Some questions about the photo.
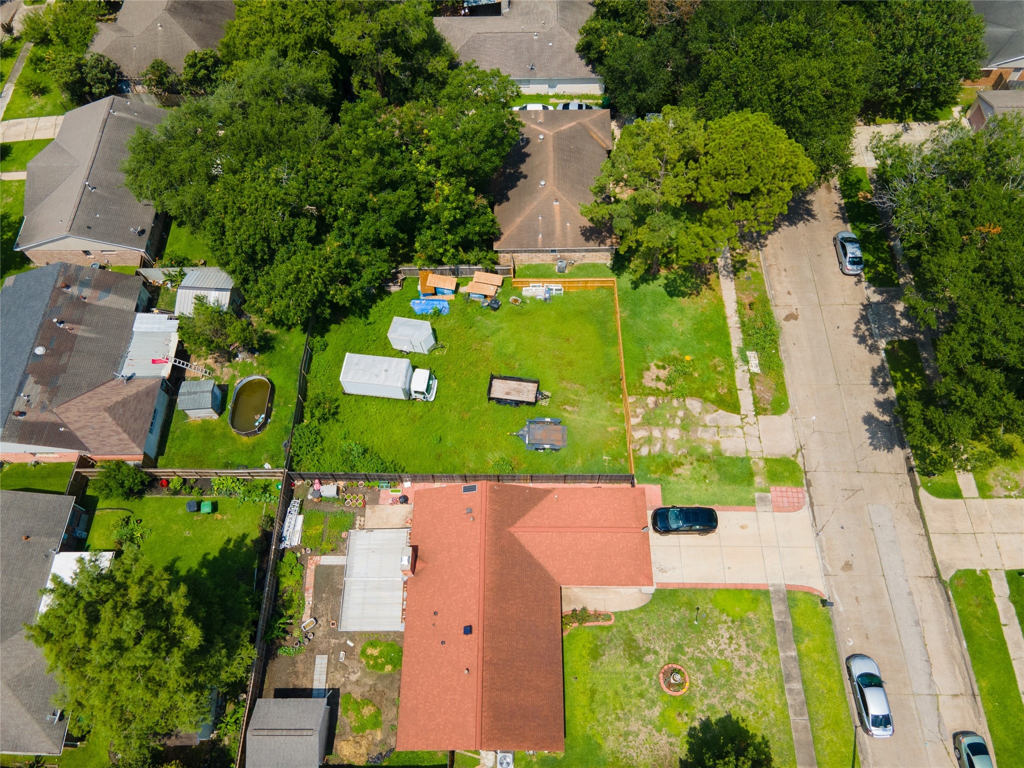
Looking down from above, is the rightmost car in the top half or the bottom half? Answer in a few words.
bottom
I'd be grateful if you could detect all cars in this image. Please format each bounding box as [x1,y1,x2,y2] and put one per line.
[831,234,864,275]
[650,504,719,538]
[559,100,603,111]
[845,656,891,737]
[514,100,555,111]
[953,730,998,768]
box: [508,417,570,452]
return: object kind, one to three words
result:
trailer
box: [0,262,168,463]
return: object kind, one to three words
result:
house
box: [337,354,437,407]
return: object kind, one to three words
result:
truck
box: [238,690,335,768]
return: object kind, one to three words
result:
shed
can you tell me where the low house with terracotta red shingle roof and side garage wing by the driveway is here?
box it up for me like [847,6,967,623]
[393,479,655,750]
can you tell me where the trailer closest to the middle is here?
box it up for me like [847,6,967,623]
[487,373,553,409]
